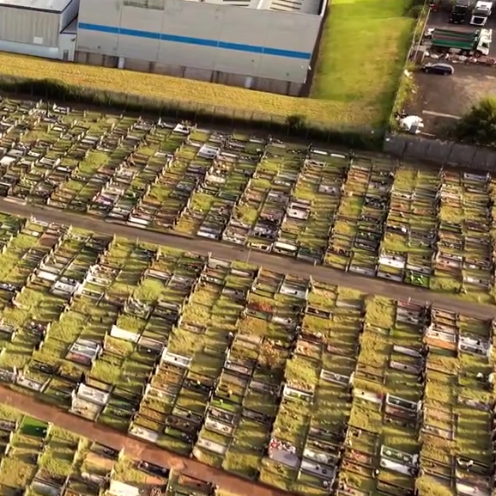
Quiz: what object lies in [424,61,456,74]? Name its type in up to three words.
vehicle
